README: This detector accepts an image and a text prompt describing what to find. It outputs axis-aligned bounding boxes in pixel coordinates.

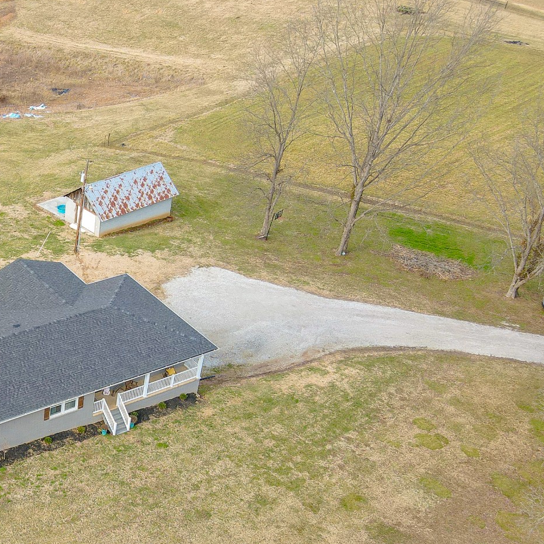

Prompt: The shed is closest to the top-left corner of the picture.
[65,159,178,237]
